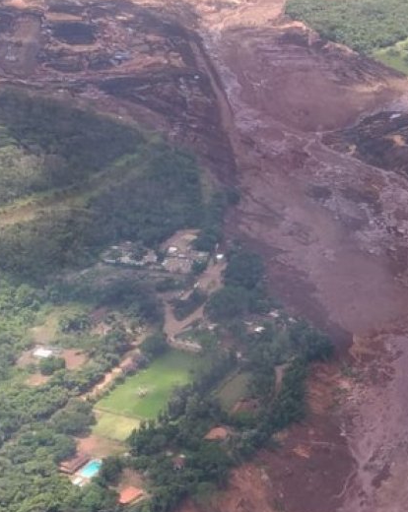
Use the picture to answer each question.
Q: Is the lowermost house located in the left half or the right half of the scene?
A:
left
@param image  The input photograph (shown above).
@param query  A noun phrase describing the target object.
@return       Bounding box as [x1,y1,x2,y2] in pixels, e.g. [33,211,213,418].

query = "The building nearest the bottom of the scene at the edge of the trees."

[116,484,142,505]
